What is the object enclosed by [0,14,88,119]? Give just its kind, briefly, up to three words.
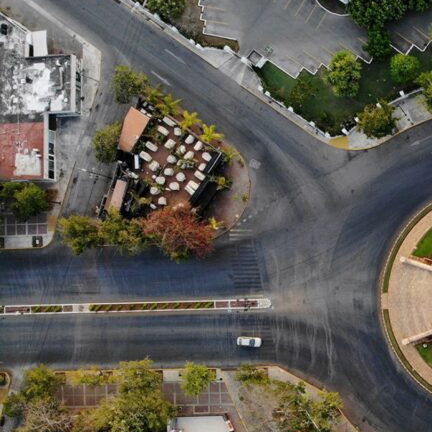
building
